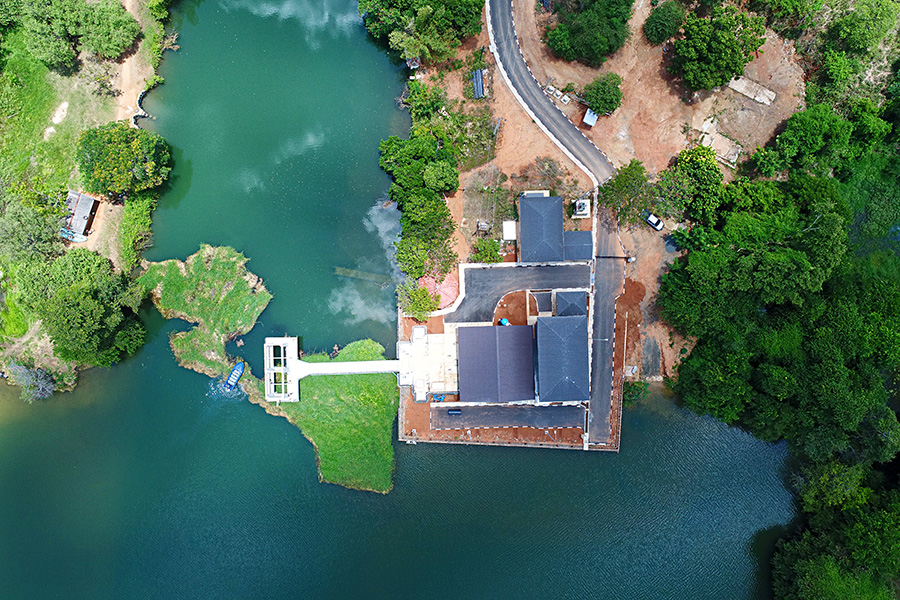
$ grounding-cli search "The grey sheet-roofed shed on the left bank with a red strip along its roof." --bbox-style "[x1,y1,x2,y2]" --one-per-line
[61,192,102,236]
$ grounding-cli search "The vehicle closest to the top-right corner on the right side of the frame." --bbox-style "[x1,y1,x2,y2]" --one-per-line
[641,211,664,230]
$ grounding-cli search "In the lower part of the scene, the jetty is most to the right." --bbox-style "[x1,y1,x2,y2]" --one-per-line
[263,337,299,407]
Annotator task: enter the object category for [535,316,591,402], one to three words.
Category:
house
